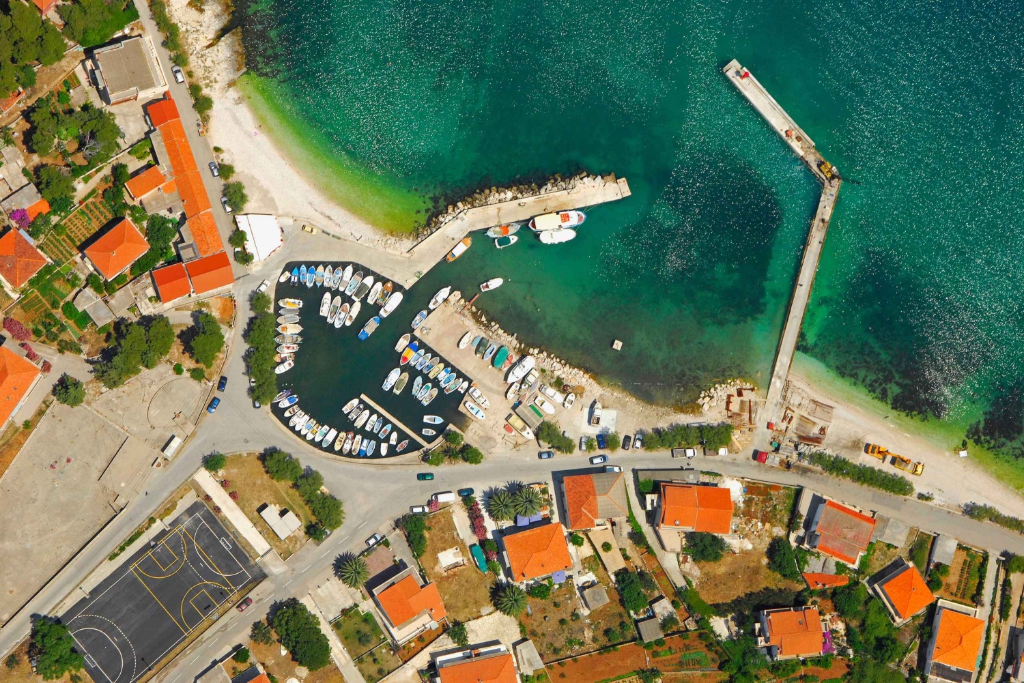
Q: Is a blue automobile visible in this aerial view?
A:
Yes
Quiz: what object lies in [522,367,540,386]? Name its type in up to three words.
boat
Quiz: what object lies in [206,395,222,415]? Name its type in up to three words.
car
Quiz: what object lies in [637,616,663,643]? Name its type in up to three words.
shed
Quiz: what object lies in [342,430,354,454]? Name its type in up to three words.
boat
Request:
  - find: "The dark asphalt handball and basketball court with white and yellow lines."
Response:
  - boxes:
[60,500,266,683]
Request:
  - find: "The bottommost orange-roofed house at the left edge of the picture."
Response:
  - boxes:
[0,344,49,435]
